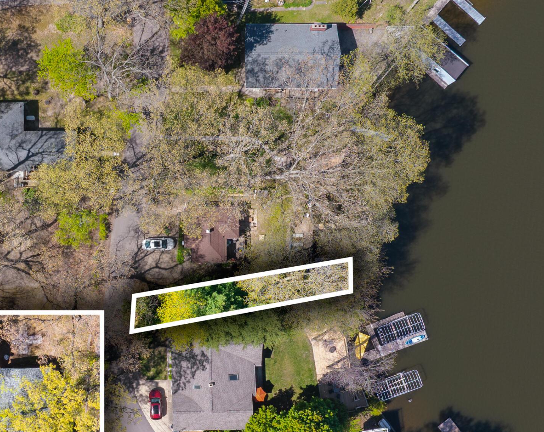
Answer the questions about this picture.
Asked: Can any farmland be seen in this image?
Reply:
No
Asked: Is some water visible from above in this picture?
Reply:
Yes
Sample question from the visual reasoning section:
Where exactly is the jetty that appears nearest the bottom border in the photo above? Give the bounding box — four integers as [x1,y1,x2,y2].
[362,322,428,361]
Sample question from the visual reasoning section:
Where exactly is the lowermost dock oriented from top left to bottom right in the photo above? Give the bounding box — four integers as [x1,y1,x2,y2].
[435,17,465,48]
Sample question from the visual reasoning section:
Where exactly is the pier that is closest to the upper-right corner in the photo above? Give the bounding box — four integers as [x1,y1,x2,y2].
[453,0,487,27]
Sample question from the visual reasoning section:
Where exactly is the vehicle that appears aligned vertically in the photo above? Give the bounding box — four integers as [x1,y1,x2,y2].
[148,387,164,420]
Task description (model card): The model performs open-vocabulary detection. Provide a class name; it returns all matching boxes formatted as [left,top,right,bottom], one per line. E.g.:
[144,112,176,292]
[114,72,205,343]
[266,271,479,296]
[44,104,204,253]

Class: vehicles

[148,387,164,420]
[141,236,175,253]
